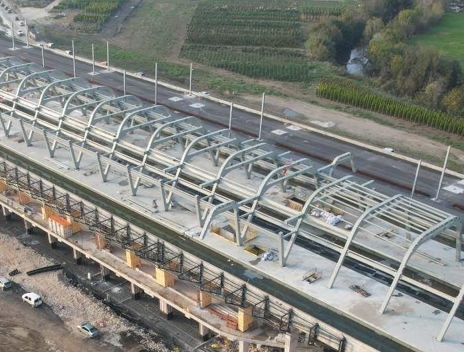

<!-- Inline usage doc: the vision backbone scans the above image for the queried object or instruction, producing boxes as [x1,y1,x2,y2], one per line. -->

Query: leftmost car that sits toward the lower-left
[0,277,13,292]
